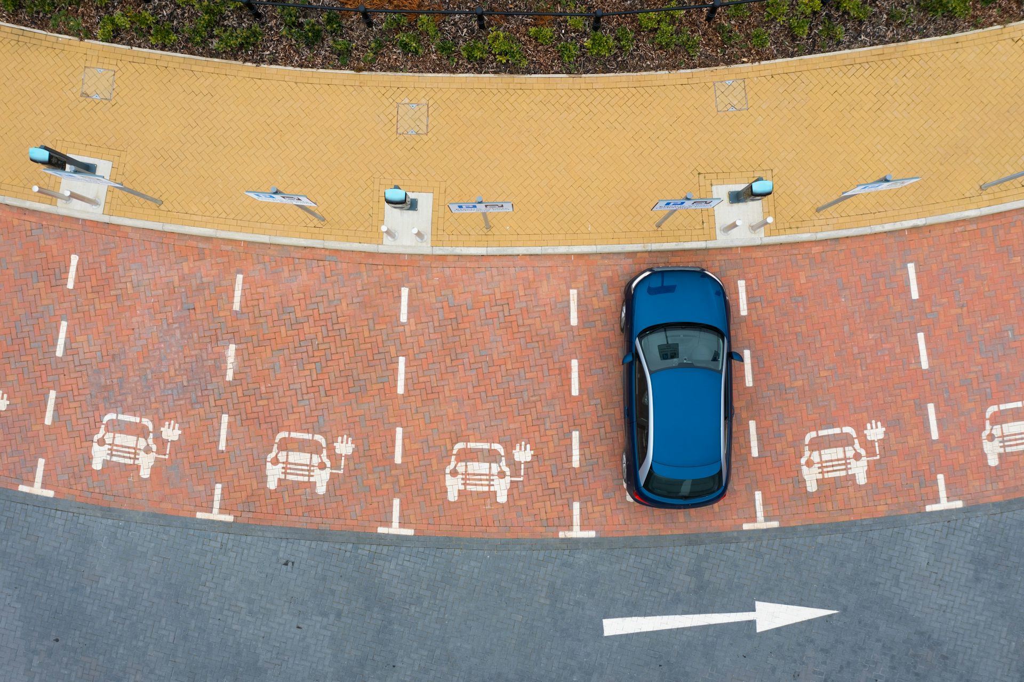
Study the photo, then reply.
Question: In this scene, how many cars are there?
1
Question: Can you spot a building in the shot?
No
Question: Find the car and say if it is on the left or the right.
right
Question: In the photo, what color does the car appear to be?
blue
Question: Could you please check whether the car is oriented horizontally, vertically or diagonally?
vertically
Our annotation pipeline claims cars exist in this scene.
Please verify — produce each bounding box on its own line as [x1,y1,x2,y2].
[619,266,743,510]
